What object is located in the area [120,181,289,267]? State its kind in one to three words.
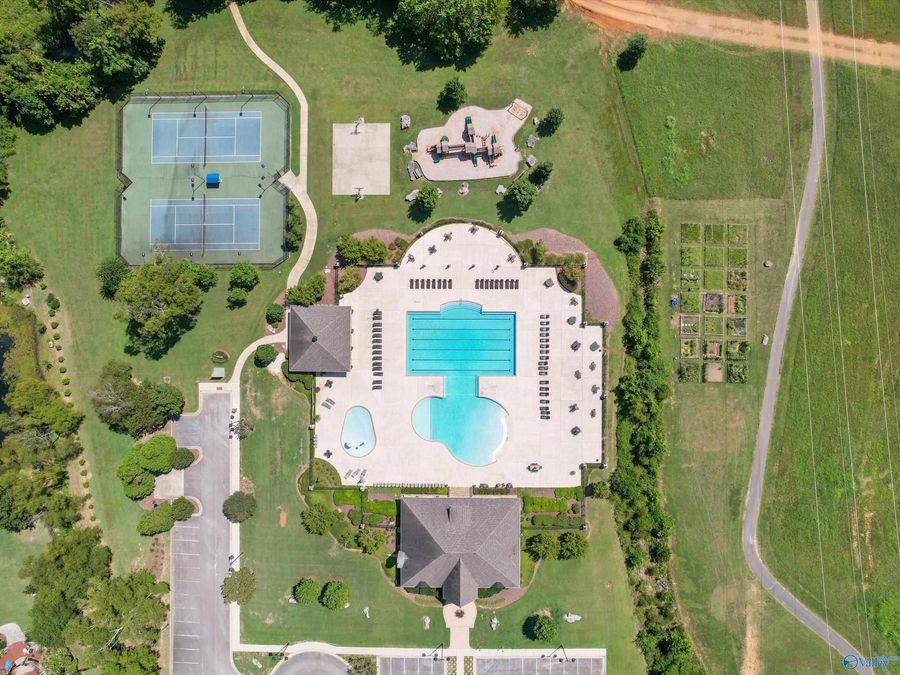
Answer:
tennis court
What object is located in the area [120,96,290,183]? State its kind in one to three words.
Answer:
tennis court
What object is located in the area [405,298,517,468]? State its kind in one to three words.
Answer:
swimming pool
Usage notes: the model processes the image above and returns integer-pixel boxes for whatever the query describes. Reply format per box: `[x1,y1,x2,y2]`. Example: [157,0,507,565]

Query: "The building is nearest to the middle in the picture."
[289,303,352,372]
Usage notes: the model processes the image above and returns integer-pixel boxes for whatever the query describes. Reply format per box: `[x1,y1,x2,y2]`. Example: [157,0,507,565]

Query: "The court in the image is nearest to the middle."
[332,123,390,195]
